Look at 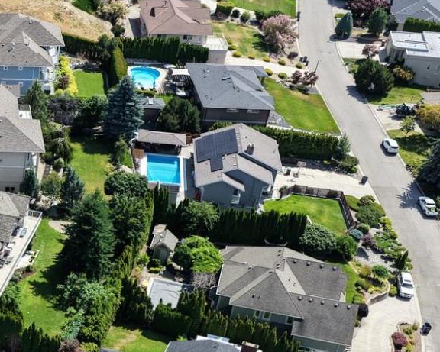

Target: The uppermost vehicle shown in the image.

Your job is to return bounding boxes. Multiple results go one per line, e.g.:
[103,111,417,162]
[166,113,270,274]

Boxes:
[379,137,402,156]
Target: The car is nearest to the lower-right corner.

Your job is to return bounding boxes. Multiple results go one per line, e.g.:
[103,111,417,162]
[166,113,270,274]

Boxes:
[395,273,416,301]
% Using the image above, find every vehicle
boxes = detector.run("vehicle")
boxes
[411,193,440,221]
[395,273,416,301]
[379,137,402,156]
